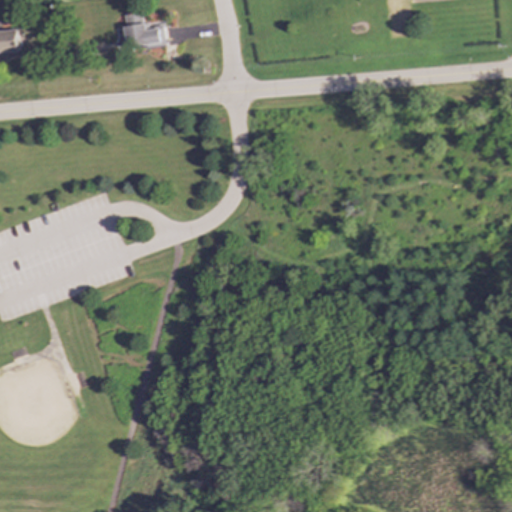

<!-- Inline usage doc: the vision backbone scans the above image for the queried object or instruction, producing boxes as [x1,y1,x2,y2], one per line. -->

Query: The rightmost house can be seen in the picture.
[124,13,164,46]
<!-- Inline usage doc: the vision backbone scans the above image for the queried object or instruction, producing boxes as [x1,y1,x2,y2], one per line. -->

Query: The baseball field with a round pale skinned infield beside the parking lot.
[0,358,126,512]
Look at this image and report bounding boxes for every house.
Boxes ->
[0,29,23,52]
[124,13,164,46]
